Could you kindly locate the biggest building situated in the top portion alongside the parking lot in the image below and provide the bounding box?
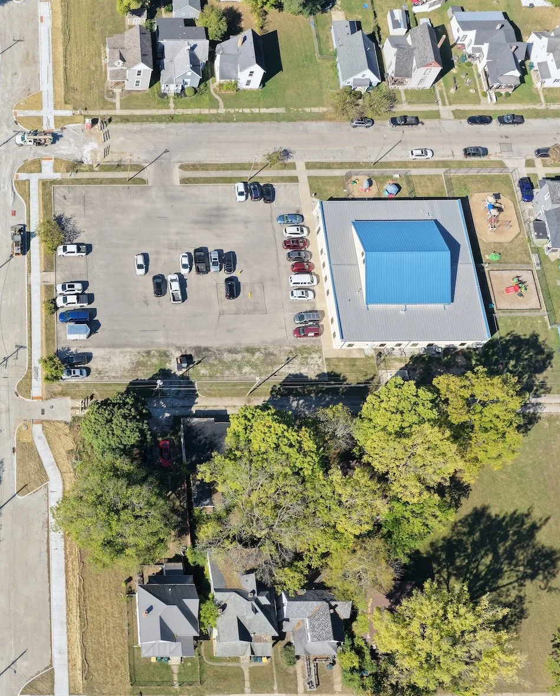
[314,201,494,350]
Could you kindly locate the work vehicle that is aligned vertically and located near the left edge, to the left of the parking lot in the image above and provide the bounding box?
[12,226,24,254]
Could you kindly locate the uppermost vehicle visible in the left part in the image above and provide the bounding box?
[13,132,53,147]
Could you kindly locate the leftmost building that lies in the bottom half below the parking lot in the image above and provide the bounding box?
[136,563,201,657]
